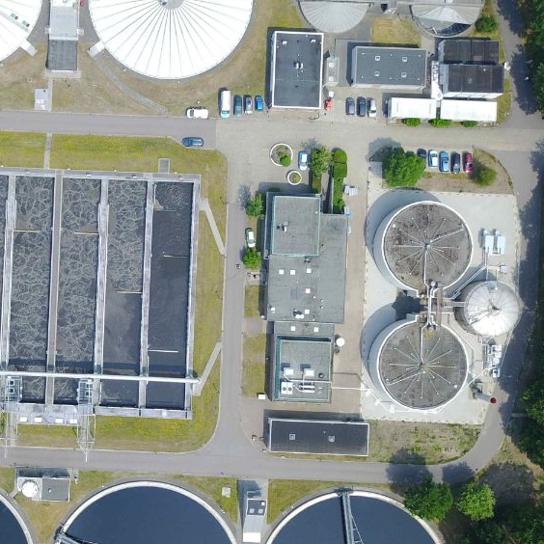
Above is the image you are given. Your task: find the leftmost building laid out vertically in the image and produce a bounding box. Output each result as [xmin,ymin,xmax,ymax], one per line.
[49,0,79,72]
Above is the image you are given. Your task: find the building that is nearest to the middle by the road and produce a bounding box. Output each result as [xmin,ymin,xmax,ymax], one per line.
[261,192,347,403]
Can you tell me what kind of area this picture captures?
industrial area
